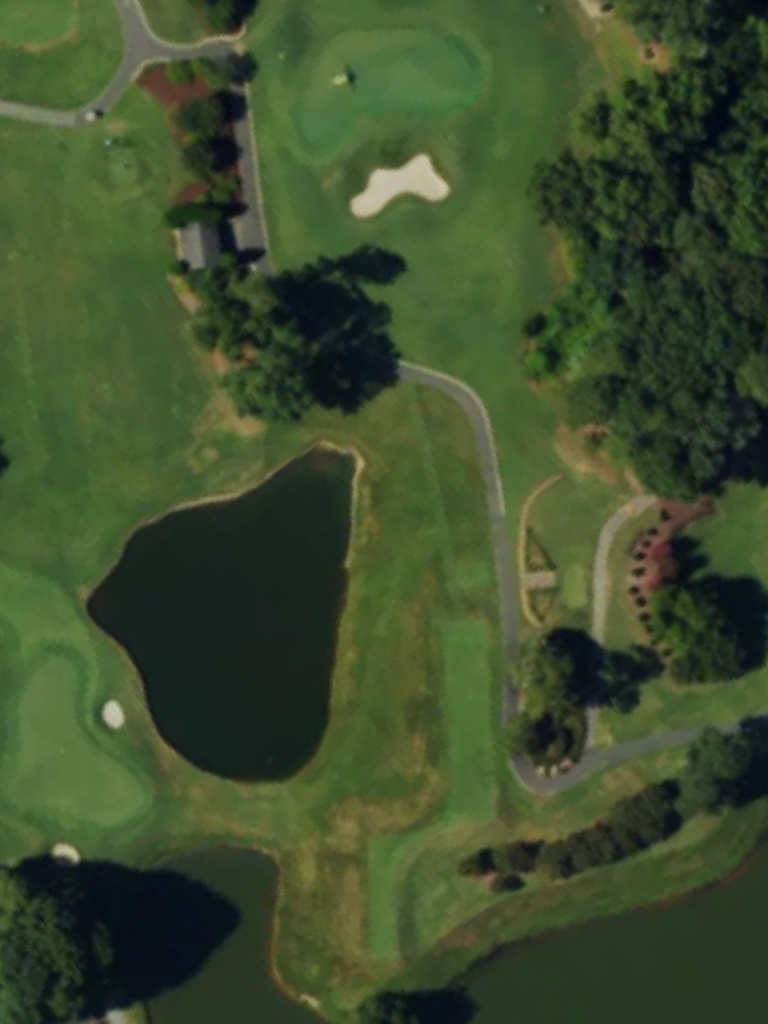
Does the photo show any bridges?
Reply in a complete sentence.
No, there's no bridge here.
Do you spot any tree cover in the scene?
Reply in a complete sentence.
Yes, there's tree cover in this view.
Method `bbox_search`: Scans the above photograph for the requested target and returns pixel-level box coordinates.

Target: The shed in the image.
[179,220,221,270]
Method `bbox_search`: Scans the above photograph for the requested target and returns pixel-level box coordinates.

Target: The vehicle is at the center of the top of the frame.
[333,63,352,90]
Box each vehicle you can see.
[82,109,98,122]
[333,63,352,90]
